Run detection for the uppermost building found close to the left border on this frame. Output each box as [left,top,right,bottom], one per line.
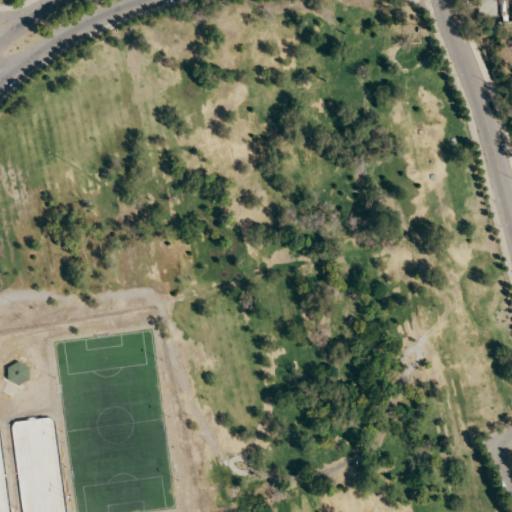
[8,360,30,385]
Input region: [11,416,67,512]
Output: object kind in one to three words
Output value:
building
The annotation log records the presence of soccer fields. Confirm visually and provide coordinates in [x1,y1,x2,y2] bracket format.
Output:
[54,330,176,512]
